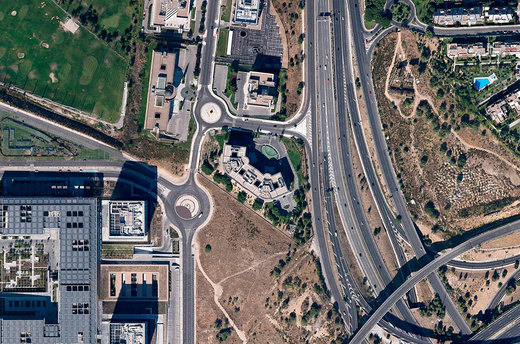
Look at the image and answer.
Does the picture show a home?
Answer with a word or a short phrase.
Yes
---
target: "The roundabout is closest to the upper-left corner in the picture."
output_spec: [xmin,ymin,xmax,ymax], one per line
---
[192,93,231,132]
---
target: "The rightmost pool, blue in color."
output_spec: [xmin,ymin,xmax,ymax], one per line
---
[474,73,498,90]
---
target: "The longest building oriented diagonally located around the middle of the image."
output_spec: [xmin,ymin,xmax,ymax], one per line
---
[221,142,288,199]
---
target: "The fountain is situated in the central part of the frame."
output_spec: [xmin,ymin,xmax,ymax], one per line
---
[261,144,279,159]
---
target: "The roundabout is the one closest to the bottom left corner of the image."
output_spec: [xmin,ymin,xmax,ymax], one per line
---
[164,183,211,229]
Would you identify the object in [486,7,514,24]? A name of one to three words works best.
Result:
house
